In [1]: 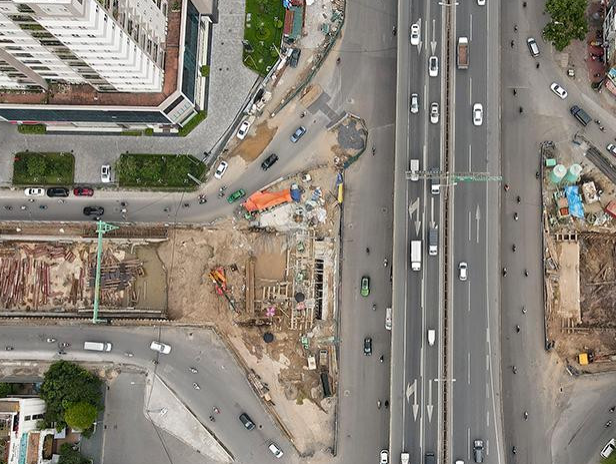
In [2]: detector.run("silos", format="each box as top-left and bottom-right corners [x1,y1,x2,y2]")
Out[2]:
[564,162,582,180]
[547,165,565,184]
